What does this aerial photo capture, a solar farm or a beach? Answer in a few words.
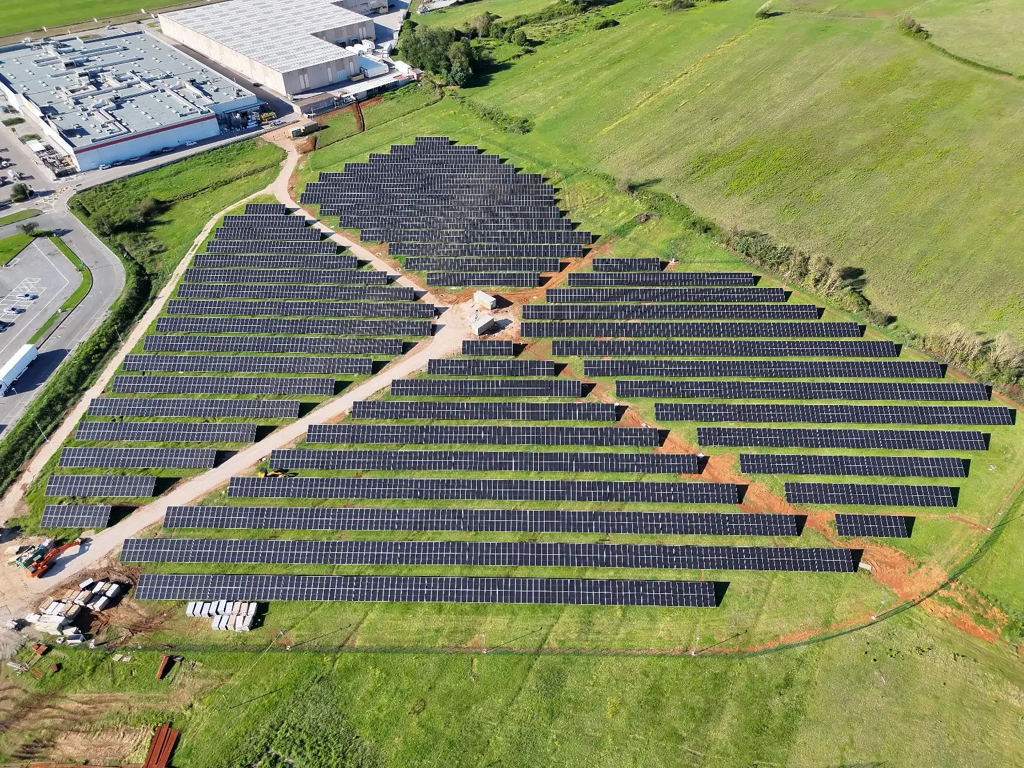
solar farm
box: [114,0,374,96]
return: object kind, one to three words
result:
building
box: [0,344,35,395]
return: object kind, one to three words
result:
truck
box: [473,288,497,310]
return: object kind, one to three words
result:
building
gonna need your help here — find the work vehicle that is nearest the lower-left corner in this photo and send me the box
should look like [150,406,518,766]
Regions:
[17,534,92,582]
